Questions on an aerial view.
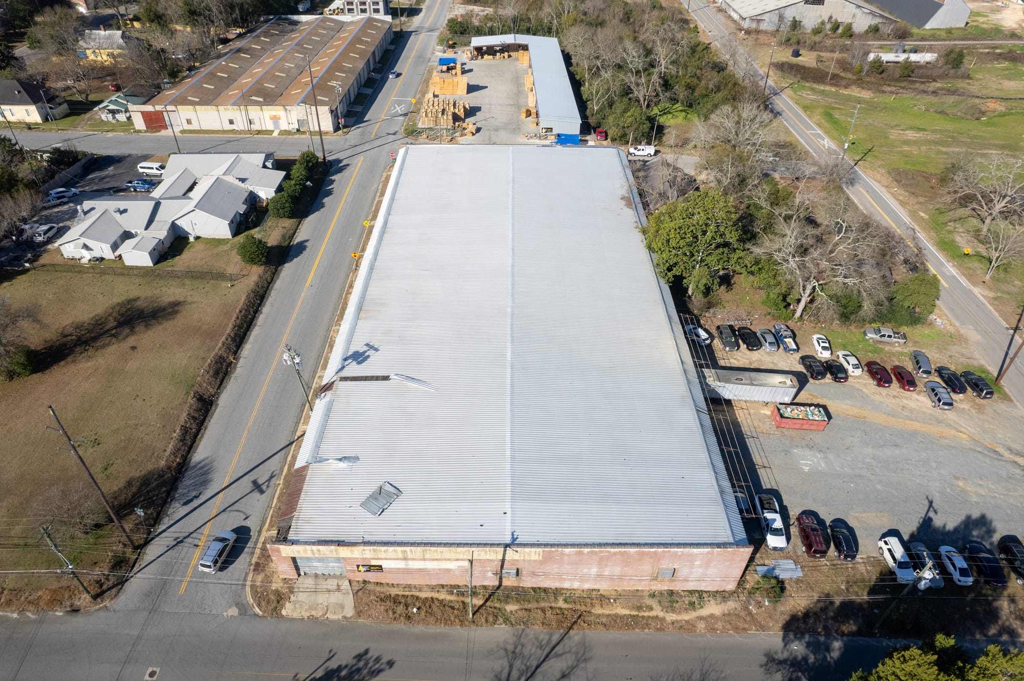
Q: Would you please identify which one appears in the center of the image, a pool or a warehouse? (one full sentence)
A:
There is a warehouse in the center of the image.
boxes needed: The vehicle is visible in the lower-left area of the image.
[198,531,236,575]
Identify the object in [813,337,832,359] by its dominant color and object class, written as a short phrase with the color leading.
white car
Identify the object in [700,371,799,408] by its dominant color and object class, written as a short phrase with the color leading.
white trailer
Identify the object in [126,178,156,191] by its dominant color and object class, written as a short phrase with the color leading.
blue vehicle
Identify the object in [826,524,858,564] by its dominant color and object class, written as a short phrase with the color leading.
black car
